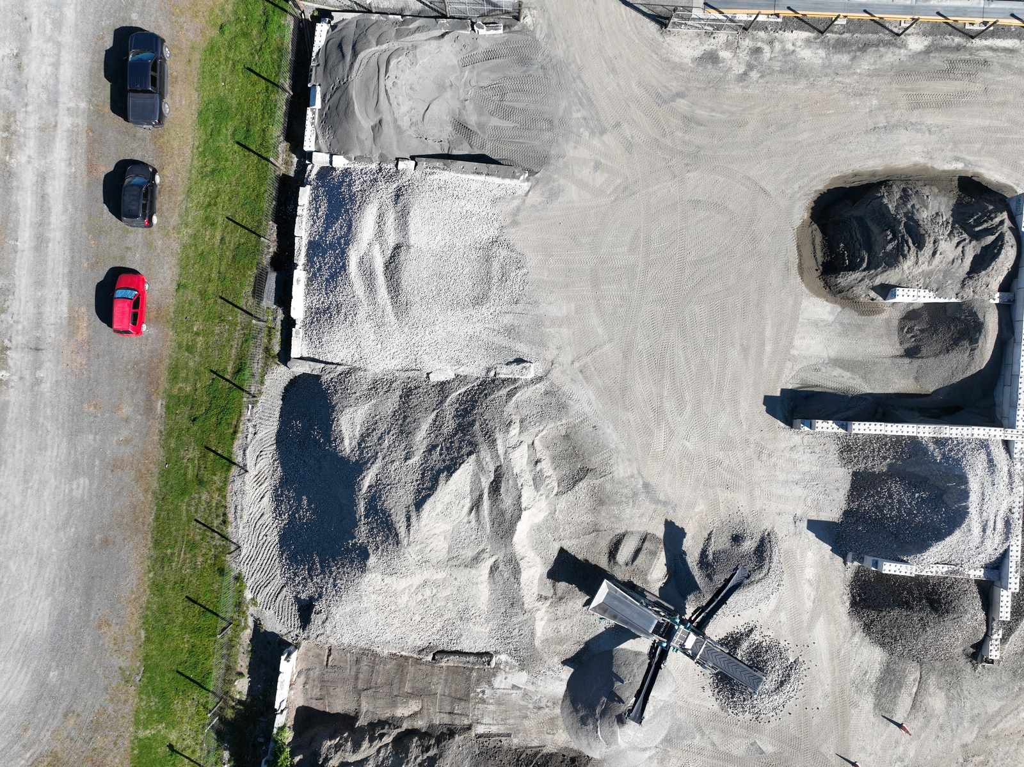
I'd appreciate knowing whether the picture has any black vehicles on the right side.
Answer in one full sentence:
No, I see no black vehicle on the right side.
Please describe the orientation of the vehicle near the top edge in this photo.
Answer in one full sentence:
The vehicle near the top edge is oriented vertically.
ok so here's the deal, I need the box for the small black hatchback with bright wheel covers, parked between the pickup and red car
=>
[118,165,160,231]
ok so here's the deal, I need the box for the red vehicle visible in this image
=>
[108,273,149,339]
